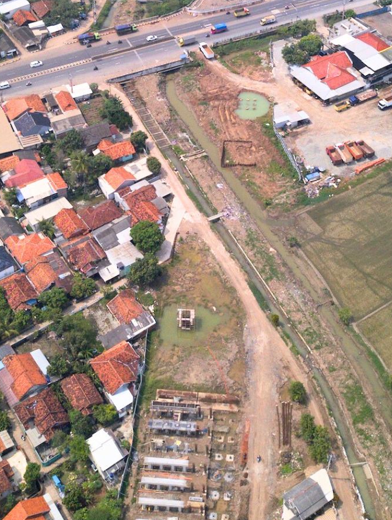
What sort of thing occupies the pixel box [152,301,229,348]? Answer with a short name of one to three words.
pond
